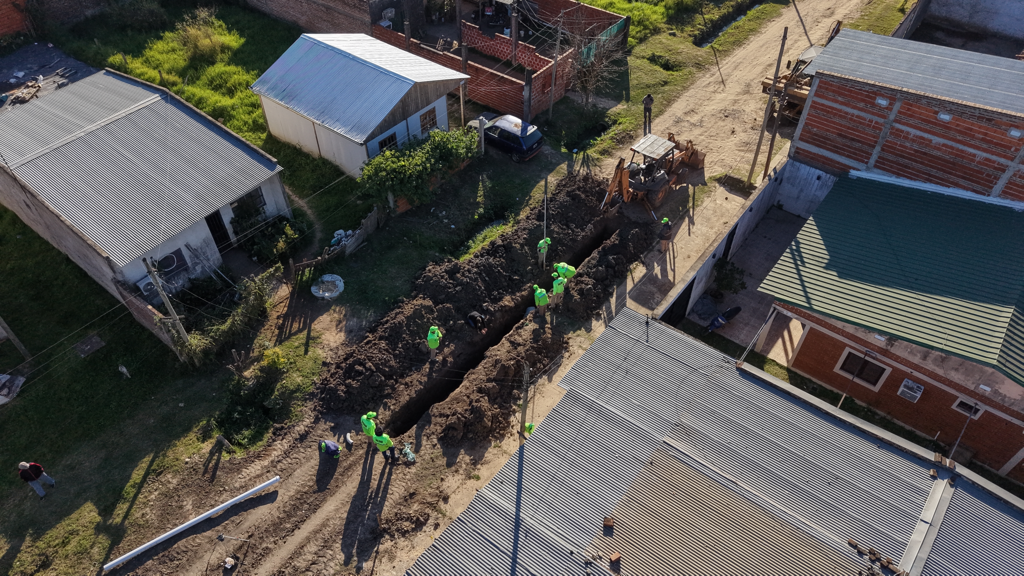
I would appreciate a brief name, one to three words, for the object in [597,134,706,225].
work vehicle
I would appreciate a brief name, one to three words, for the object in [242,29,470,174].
house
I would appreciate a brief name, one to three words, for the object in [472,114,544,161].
car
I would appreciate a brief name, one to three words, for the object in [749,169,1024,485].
house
